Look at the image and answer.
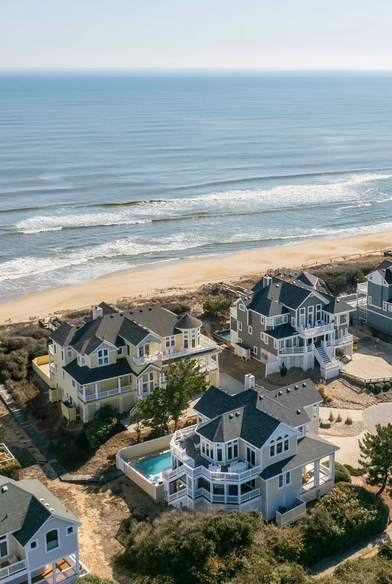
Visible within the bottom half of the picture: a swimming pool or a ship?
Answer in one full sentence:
Looking within the bottom half of the picture, you will find a swimming pool.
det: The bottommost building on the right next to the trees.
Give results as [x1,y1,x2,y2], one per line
[163,368,342,524]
